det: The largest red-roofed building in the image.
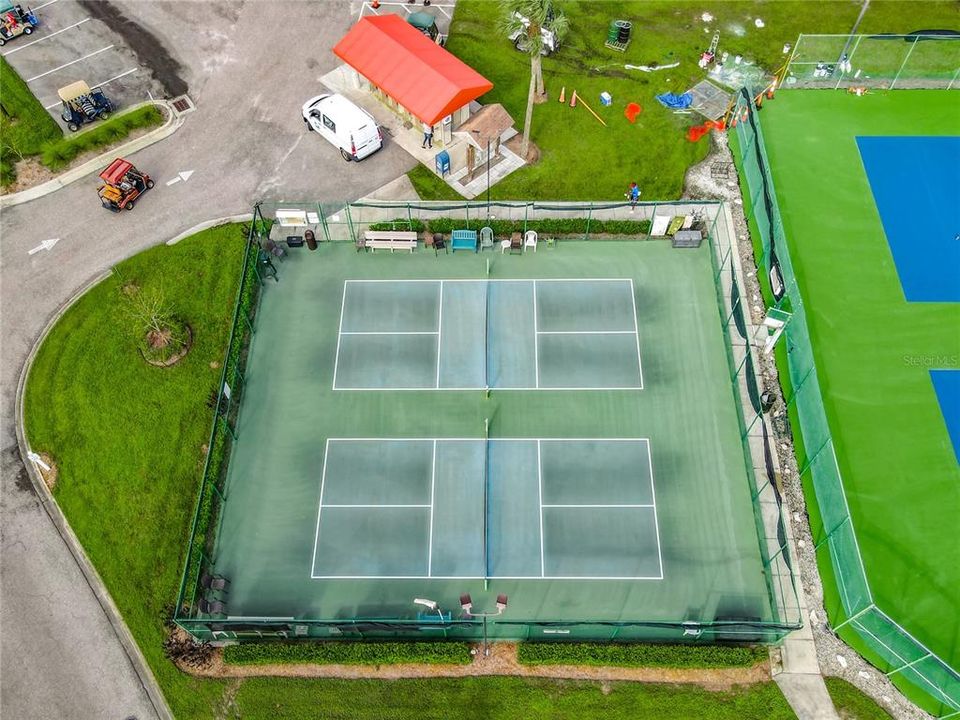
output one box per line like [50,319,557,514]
[334,13,493,149]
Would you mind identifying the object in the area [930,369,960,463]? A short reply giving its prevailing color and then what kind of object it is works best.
blue tennis court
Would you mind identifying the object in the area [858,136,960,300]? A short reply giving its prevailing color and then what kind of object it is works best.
blue tennis court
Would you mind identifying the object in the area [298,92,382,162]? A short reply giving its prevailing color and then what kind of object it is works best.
white van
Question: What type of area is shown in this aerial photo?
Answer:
sports ground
